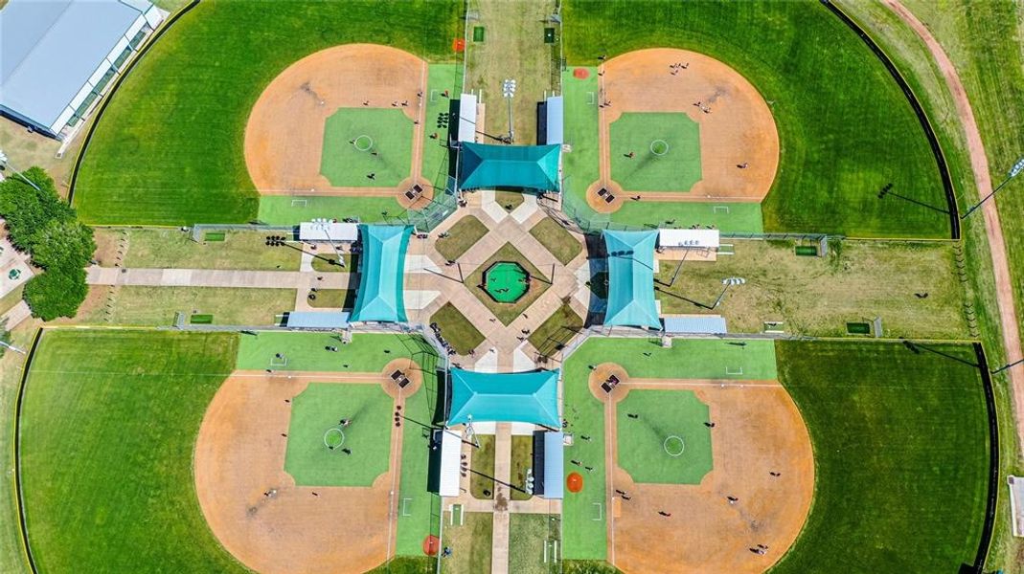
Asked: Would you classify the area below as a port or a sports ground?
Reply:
sports ground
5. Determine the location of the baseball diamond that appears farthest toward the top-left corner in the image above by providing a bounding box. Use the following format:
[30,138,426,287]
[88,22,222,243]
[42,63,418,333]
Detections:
[69,0,467,230]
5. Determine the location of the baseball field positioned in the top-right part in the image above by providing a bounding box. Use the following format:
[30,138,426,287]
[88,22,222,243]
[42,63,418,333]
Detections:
[561,0,955,239]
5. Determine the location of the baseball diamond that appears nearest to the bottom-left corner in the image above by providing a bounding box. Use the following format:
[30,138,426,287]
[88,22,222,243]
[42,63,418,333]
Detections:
[18,326,447,574]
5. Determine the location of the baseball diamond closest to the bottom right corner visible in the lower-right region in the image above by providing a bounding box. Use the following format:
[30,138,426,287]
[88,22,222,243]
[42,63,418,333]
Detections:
[559,337,995,574]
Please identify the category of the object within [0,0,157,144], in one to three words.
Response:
building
